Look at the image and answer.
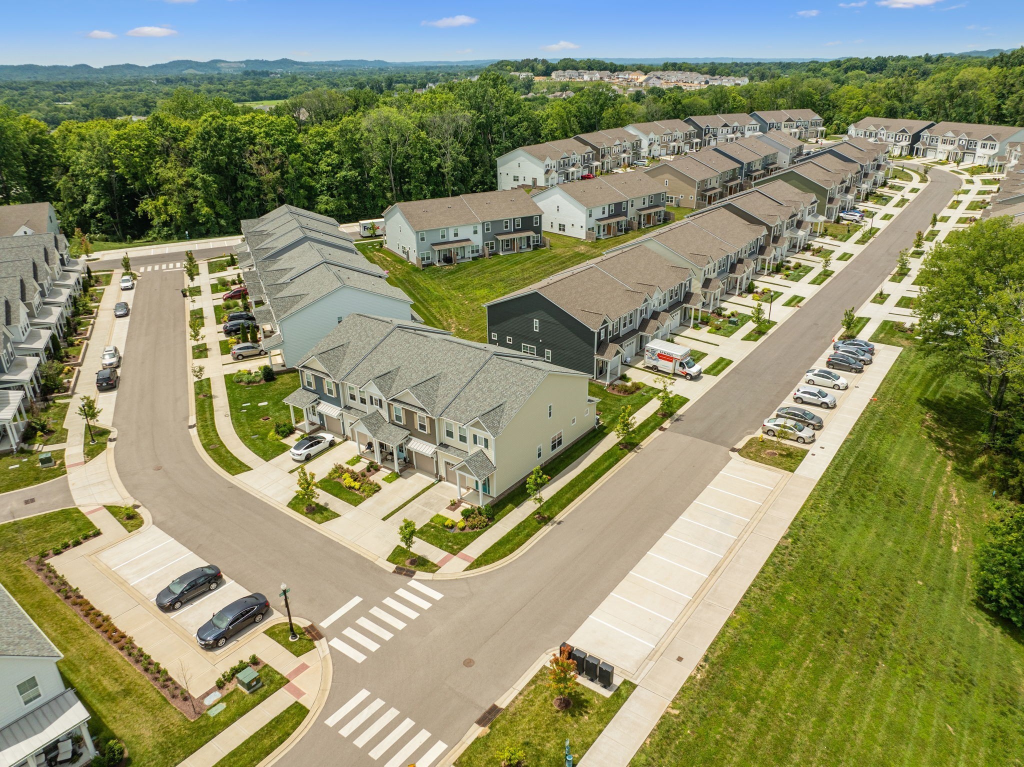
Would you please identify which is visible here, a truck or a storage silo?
truck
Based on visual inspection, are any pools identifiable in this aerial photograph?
No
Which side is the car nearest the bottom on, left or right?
left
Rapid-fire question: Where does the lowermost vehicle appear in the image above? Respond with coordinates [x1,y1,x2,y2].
[192,591,269,650]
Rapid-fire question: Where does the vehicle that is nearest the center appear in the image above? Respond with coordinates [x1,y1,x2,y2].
[640,336,704,378]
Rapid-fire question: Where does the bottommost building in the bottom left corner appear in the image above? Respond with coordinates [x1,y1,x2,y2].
[0,595,101,767]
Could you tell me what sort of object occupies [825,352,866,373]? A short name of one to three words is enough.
car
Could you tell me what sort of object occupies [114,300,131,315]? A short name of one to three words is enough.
car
